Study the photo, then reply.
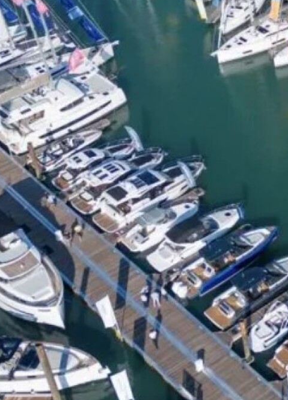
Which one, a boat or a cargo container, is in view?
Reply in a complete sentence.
I can see a boat in this picture.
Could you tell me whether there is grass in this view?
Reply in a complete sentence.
No, there's no grass in this view.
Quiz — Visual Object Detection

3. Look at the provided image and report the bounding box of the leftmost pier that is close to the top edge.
[196,0,238,25]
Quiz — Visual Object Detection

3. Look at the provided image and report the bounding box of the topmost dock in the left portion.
[28,122,111,172]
